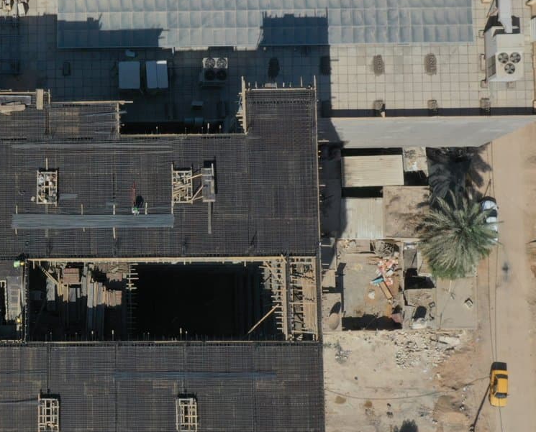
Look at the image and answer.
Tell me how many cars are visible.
two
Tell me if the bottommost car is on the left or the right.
right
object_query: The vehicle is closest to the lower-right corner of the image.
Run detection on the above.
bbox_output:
[488,364,511,407]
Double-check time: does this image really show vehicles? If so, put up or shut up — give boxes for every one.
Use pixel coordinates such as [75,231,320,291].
[479,197,501,237]
[488,364,511,407]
